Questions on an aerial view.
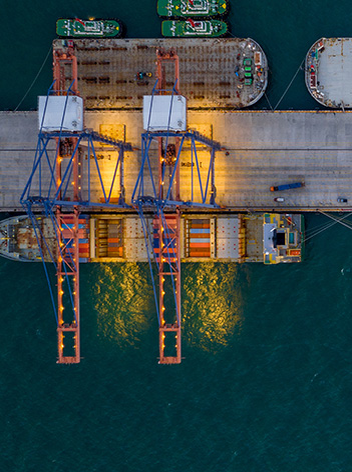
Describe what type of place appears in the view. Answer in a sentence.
This image shows a port.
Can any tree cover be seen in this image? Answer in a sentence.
No, tree cover can't be seen anywhere here.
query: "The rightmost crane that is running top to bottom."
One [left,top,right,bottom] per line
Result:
[130,53,222,365]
